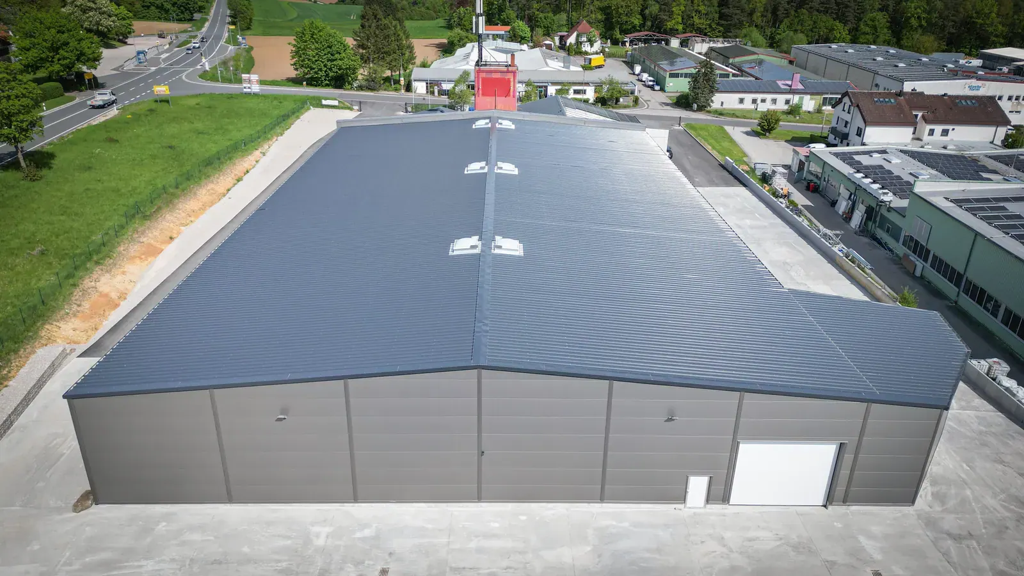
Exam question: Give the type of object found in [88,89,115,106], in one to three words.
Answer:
vehicle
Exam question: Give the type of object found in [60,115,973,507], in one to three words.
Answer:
building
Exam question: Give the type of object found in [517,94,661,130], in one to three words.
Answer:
building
